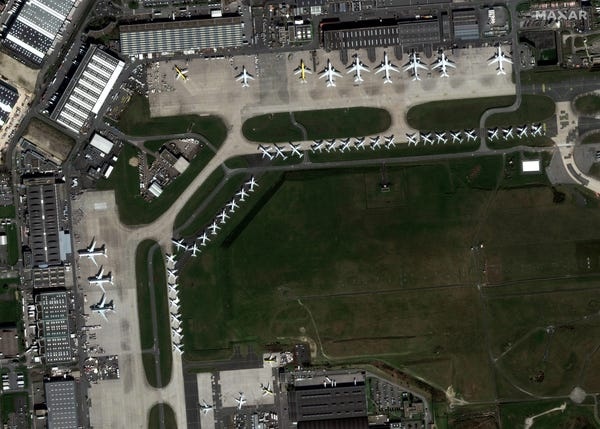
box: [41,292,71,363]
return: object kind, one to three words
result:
hangar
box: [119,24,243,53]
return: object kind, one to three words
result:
hangar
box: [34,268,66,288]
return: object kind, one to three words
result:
building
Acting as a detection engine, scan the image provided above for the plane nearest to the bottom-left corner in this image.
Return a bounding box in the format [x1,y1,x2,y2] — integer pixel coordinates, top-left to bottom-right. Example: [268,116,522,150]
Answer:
[91,297,114,321]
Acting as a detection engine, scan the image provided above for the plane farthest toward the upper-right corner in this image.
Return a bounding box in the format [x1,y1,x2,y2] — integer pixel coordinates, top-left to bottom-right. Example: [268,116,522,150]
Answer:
[489,47,513,74]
